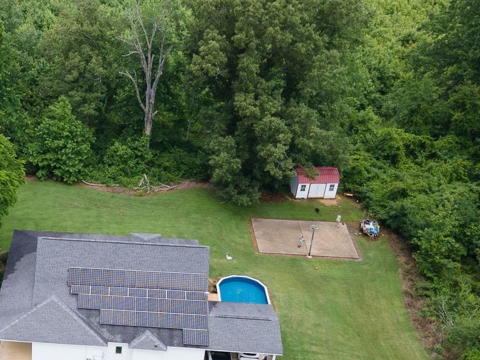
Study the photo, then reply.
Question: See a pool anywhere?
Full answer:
Yes, there is a pool in the image.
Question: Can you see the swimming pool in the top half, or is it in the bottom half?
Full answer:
The swimming pool sits in the bottom half of the picture.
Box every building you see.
[288,166,340,198]
[0,231,284,360]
